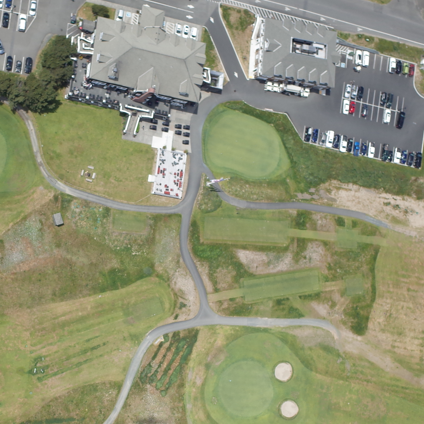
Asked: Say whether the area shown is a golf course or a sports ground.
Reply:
golf course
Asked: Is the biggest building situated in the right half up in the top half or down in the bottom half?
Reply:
top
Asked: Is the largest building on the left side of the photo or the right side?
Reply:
left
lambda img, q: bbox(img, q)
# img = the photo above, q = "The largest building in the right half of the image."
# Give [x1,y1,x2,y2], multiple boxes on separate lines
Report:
[246,15,347,90]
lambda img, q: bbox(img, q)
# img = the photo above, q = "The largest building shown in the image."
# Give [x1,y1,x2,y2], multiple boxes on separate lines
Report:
[67,5,210,135]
